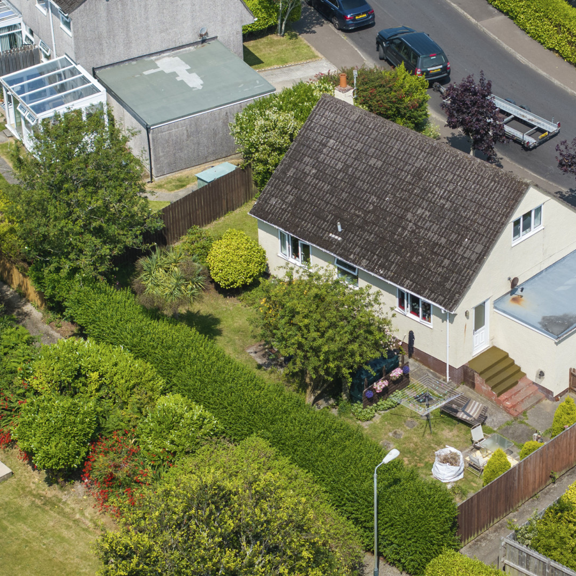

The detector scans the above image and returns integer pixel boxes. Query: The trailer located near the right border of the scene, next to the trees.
[436,83,559,148]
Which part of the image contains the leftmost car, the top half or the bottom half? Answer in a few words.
top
